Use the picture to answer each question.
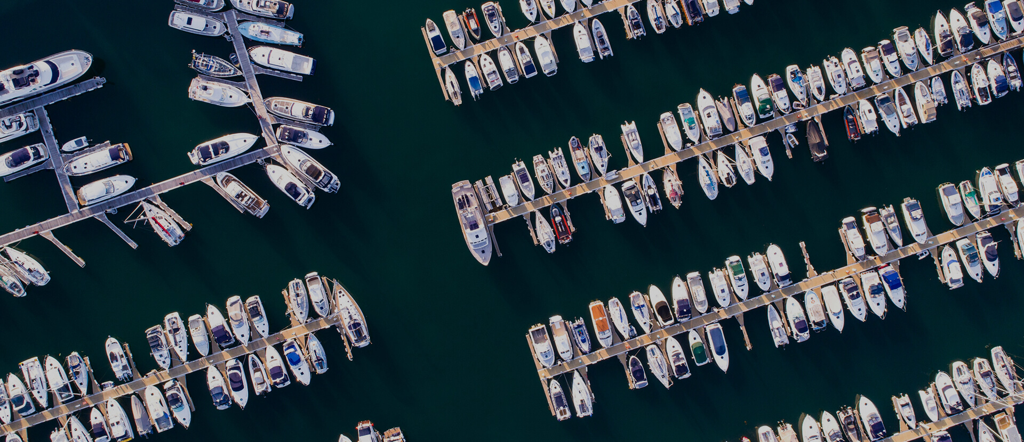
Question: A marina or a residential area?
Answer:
marina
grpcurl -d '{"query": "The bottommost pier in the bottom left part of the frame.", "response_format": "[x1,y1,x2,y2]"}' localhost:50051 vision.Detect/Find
[0,276,353,442]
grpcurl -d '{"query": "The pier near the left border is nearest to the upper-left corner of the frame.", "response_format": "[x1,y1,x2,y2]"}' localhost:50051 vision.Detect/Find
[0,77,105,120]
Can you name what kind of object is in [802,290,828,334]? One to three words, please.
boat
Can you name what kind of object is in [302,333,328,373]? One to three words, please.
boat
